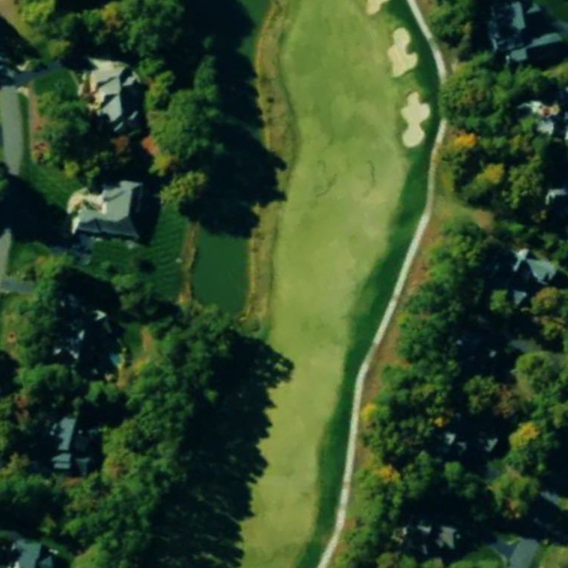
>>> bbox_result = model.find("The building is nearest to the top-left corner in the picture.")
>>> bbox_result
[92,56,141,120]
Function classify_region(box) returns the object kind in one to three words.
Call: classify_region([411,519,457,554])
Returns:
house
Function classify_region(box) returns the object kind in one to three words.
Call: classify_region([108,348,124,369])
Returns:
swimming pool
